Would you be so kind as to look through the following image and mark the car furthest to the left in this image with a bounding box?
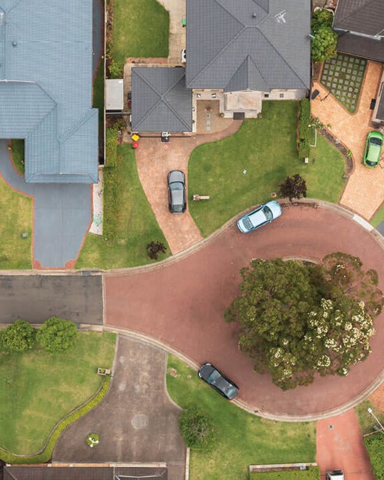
[167,170,187,214]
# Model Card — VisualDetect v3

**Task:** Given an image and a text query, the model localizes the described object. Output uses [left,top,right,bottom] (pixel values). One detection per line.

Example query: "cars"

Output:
[326,468,346,480]
[236,201,282,234]
[167,170,187,214]
[198,363,241,399]
[362,130,384,169]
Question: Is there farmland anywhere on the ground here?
No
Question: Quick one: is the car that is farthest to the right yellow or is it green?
green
